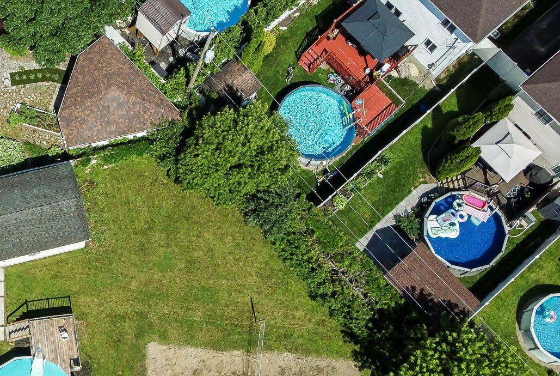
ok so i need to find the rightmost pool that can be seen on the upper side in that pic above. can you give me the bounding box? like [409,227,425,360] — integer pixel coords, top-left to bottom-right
[274,86,357,167]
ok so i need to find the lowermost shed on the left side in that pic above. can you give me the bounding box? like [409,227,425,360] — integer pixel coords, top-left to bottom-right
[0,161,91,268]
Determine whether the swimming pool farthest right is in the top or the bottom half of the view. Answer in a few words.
bottom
